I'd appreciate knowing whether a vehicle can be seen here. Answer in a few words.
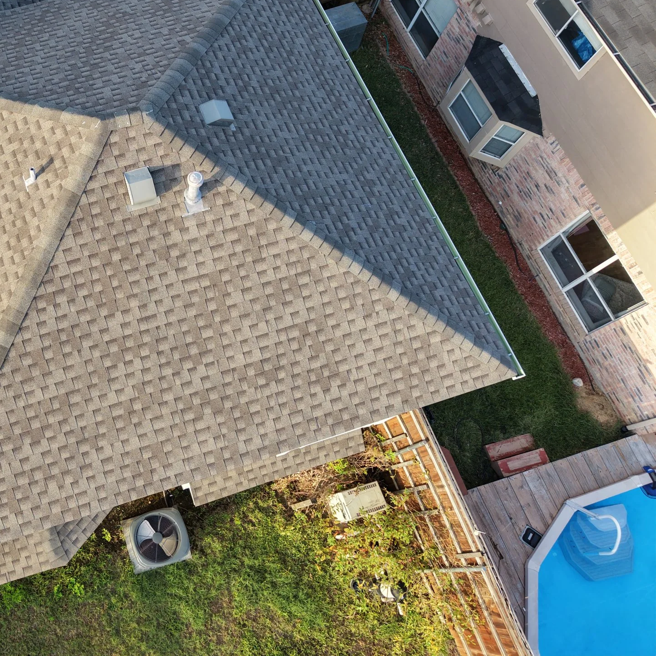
No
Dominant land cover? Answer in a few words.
buildings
